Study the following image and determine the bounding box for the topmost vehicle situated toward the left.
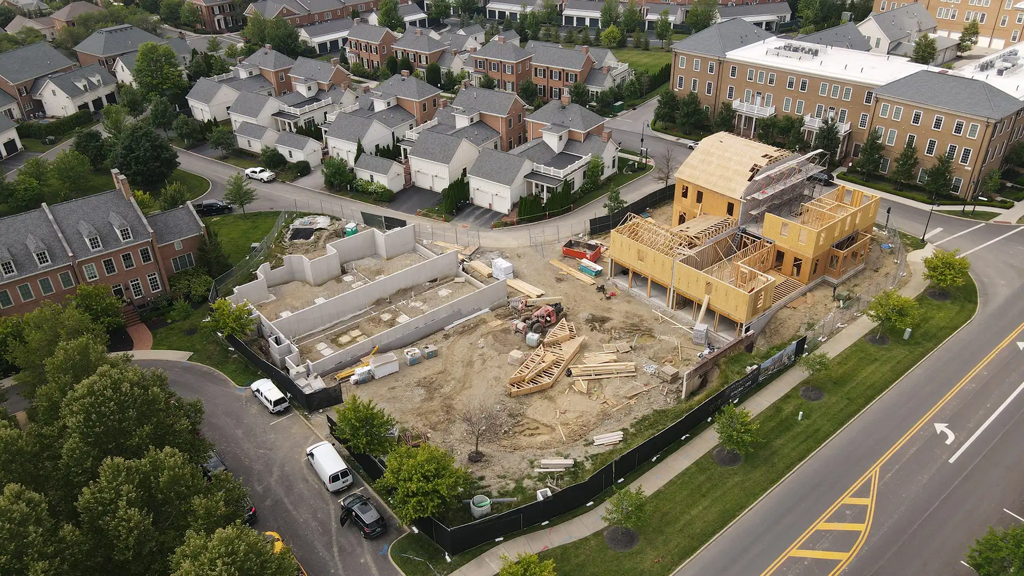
[245,163,280,182]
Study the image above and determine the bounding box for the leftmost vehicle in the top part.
[191,194,238,213]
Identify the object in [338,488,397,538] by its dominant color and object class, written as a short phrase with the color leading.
black car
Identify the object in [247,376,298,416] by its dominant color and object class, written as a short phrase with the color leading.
white truck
